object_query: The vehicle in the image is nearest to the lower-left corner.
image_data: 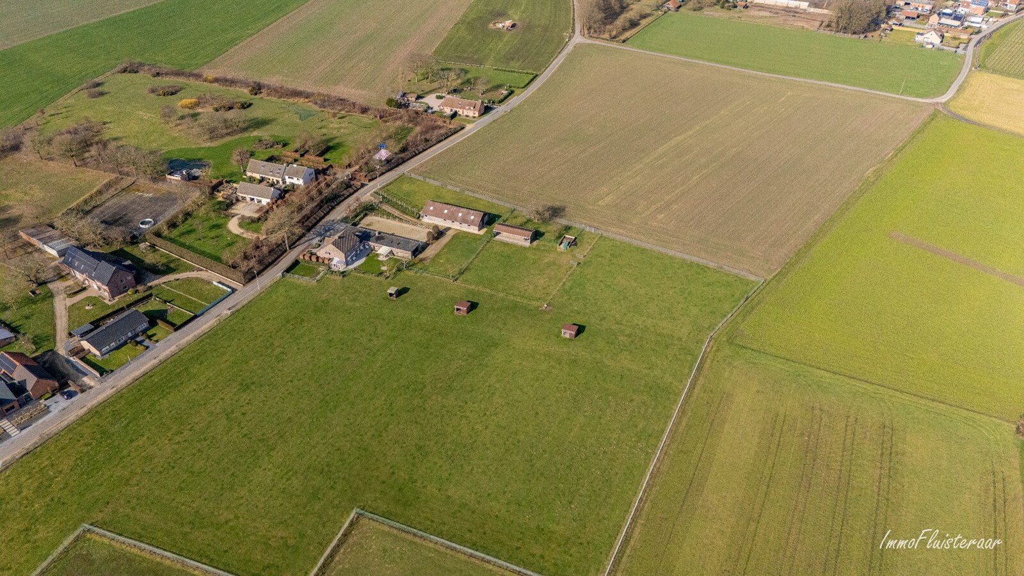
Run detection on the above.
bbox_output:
[56,386,73,399]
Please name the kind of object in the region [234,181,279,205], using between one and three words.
building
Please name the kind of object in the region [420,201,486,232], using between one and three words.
building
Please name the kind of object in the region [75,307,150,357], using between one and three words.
house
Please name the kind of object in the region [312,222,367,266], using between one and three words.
house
